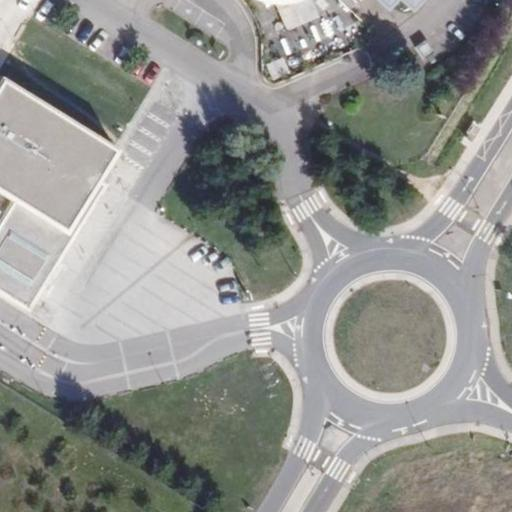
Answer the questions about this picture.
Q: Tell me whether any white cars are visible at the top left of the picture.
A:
Yes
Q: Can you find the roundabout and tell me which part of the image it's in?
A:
right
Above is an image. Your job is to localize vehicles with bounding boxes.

[448,21,468,42]
[200,250,222,268]
[88,30,107,53]
[75,18,94,42]
[144,60,162,84]
[419,42,438,64]
[113,42,131,66]
[218,292,240,304]
[133,56,151,77]
[209,254,232,273]
[216,280,238,292]
[186,246,210,264]
[37,0,56,20]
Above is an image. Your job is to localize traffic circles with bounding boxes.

[240,96,512,512]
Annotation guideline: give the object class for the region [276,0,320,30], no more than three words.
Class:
shed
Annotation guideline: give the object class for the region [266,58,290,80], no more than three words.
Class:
shed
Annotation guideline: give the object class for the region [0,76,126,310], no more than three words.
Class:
building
